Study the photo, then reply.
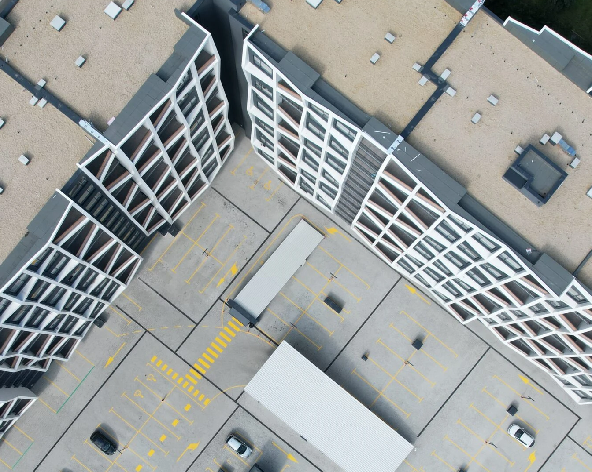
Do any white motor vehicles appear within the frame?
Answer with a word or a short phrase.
Yes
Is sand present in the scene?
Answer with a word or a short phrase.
No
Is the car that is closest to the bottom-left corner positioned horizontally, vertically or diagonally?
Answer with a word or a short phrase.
diagonally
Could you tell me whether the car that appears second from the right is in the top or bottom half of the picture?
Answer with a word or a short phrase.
bottom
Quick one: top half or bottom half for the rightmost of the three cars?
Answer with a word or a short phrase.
bottom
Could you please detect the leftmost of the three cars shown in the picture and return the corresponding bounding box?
[85,428,120,460]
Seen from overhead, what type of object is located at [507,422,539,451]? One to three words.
car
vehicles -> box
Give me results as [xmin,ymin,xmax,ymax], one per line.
[85,428,120,460]
[223,433,253,460]
[507,422,539,451]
